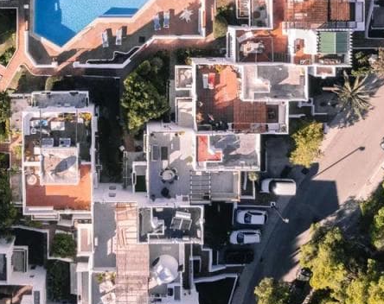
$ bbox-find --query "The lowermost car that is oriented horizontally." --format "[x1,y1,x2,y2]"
[221,247,256,264]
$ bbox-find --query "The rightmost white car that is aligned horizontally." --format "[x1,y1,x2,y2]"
[259,178,298,197]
